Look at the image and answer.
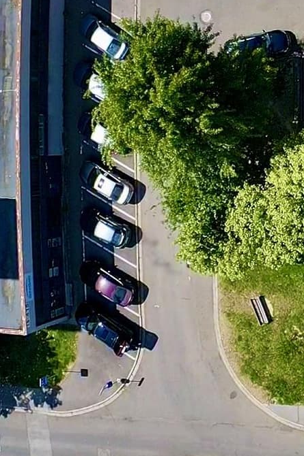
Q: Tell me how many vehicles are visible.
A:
8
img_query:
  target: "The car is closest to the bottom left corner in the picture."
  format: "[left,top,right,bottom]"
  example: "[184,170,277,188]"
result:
[76,303,142,355]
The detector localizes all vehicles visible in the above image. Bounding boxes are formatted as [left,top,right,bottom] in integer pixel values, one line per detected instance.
[79,111,129,157]
[81,162,142,206]
[85,264,144,309]
[82,209,140,251]
[76,63,128,108]
[79,15,137,61]
[231,27,298,58]
[76,303,142,355]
